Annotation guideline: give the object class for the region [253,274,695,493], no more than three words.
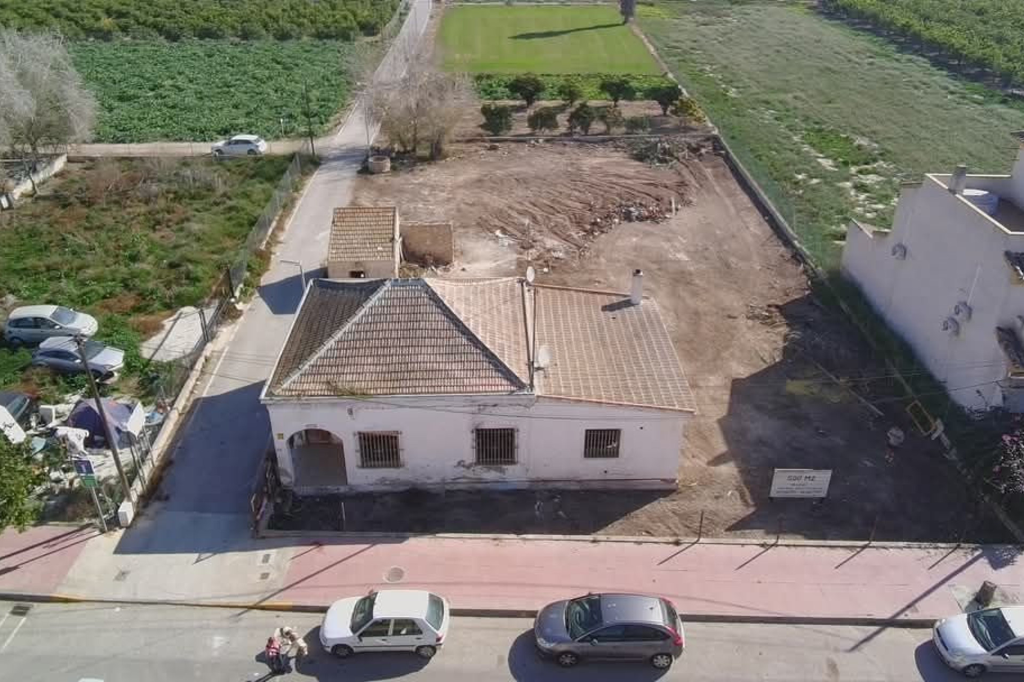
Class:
house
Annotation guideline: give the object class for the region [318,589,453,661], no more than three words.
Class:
car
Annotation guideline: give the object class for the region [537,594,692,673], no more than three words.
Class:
car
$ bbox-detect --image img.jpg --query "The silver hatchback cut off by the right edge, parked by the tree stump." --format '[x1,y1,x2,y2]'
[920,597,1024,673]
